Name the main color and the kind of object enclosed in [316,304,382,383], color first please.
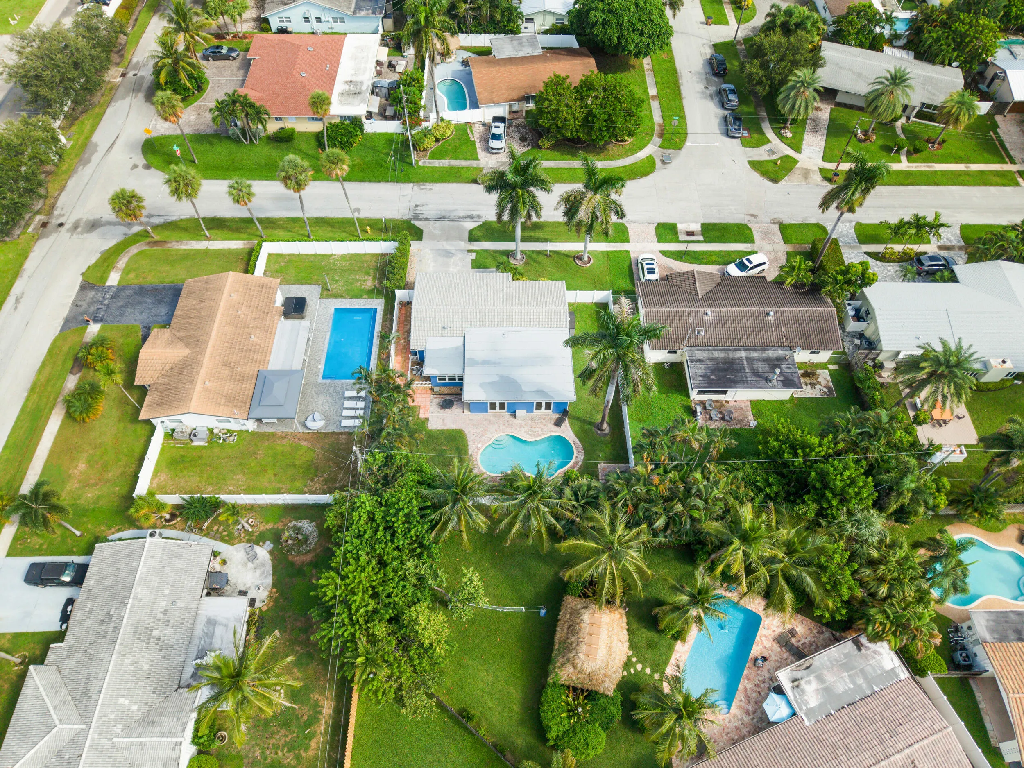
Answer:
blue swimming pool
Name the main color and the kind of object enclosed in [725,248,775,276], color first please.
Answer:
white car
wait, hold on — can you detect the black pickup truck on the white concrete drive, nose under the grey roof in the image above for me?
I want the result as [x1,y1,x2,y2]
[6,559,88,595]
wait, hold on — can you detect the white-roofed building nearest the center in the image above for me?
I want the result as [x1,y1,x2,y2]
[411,272,576,413]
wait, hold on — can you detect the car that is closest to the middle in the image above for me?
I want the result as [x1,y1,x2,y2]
[638,250,664,281]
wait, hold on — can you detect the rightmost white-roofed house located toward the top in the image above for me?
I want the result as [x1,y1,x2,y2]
[990,44,1024,106]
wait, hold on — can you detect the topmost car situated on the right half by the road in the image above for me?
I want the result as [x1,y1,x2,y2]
[709,50,731,73]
